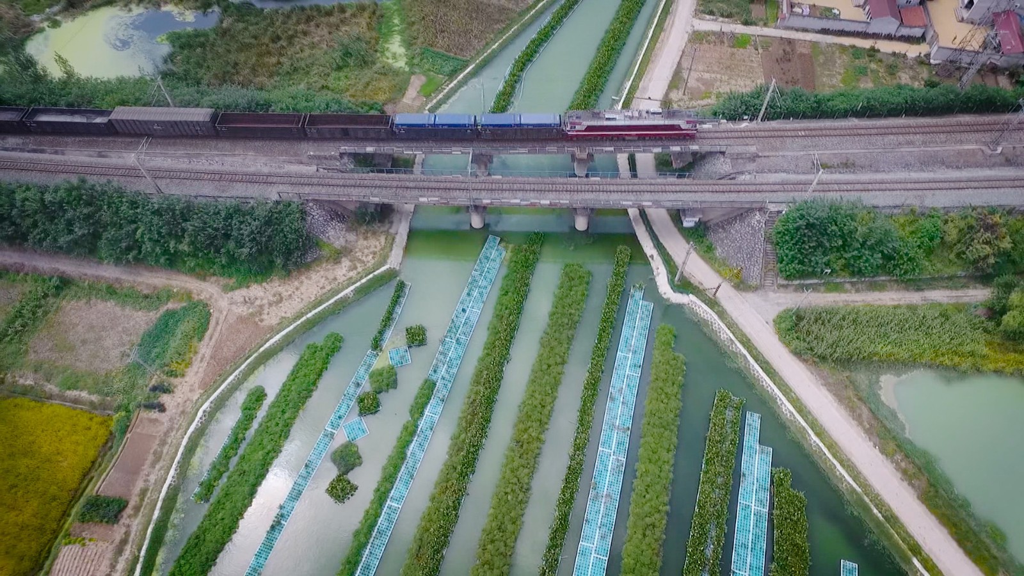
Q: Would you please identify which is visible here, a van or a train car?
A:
train car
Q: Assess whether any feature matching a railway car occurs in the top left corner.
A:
Yes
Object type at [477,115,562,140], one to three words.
rail car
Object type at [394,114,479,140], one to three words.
rail car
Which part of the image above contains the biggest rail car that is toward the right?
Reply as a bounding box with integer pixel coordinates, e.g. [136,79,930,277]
[562,109,698,141]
